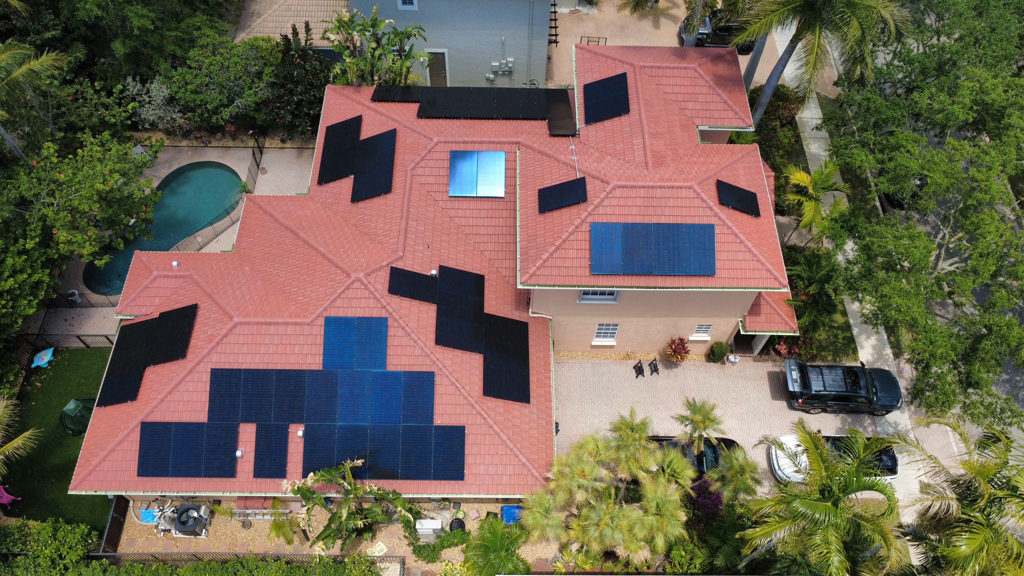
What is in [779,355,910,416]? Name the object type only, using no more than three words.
car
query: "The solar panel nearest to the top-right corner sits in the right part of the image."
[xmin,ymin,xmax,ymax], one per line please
[718,178,762,216]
